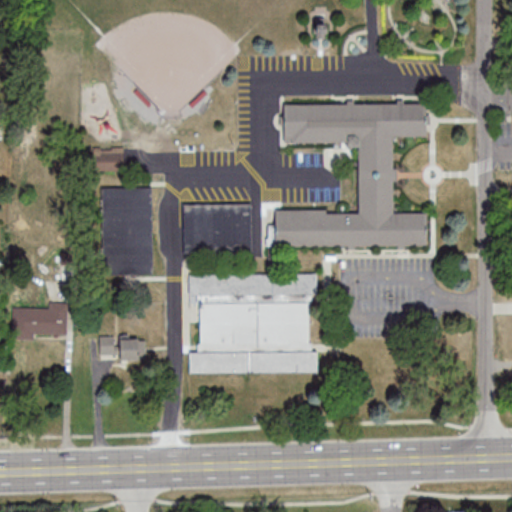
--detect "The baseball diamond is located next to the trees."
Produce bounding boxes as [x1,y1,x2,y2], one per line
[68,0,275,126]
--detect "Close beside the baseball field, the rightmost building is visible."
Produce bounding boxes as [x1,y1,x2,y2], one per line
[266,99,428,247]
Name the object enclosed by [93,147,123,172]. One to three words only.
building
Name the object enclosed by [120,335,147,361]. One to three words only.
house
